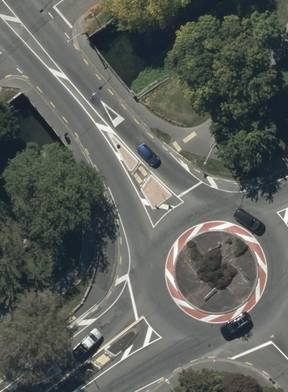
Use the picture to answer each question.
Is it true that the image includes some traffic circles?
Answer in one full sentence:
Yes, the photo shows a traffic circle.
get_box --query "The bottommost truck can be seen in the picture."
[72,328,102,358]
